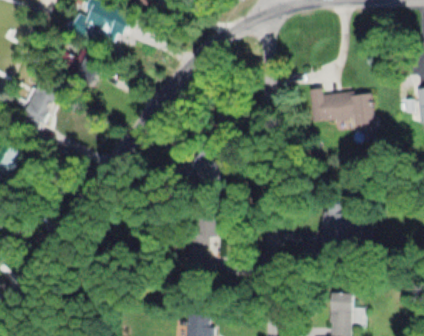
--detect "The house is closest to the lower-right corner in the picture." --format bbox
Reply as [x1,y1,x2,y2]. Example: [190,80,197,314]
[331,294,369,336]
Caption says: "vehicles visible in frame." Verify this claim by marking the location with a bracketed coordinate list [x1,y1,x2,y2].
[0,266,11,274]
[303,74,308,84]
